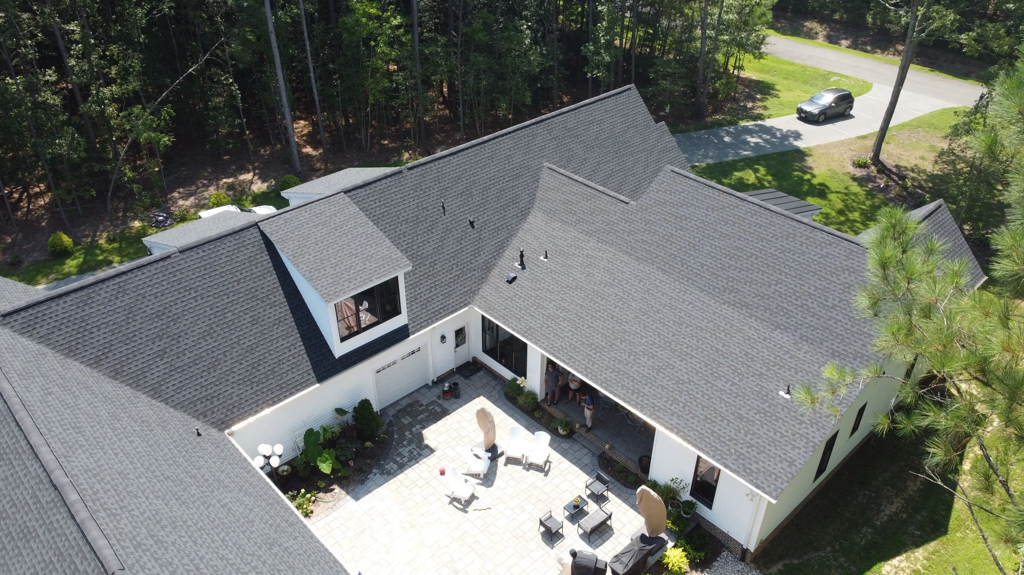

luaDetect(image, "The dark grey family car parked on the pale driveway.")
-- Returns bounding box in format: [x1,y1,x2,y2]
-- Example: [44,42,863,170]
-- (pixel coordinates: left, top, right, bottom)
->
[798,86,860,123]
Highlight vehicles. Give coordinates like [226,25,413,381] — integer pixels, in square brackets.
[798,86,860,123]
[191,202,280,222]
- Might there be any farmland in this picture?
No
